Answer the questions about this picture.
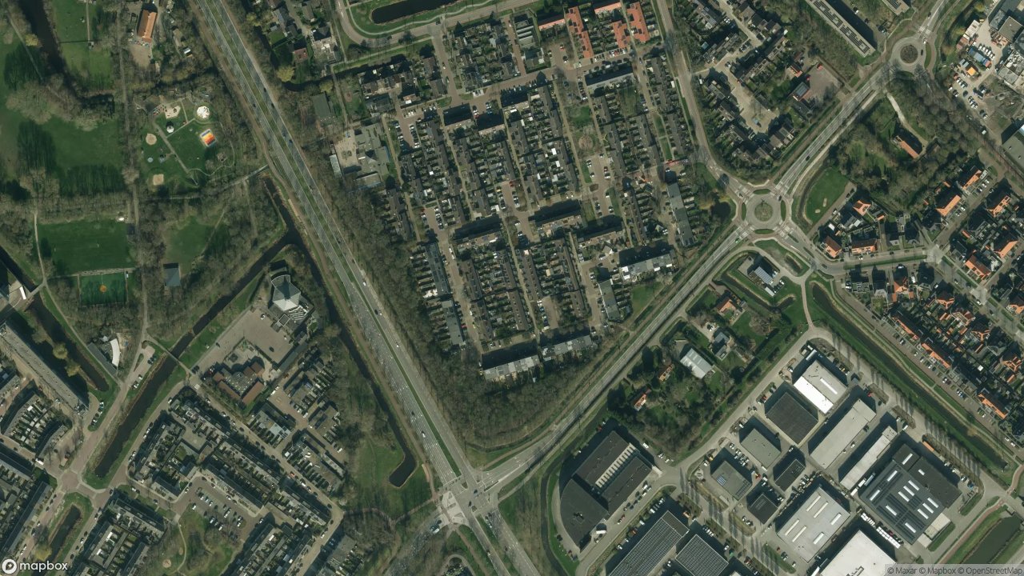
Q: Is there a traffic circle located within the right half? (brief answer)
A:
Yes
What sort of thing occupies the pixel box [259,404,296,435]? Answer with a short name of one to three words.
house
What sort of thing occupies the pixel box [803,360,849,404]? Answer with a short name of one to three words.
building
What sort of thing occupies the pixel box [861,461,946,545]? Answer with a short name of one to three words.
building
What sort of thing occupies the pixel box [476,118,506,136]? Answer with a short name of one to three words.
house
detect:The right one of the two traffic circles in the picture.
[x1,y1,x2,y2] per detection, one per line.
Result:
[890,35,931,76]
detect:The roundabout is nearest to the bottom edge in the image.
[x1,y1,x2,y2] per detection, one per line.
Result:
[737,185,790,238]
